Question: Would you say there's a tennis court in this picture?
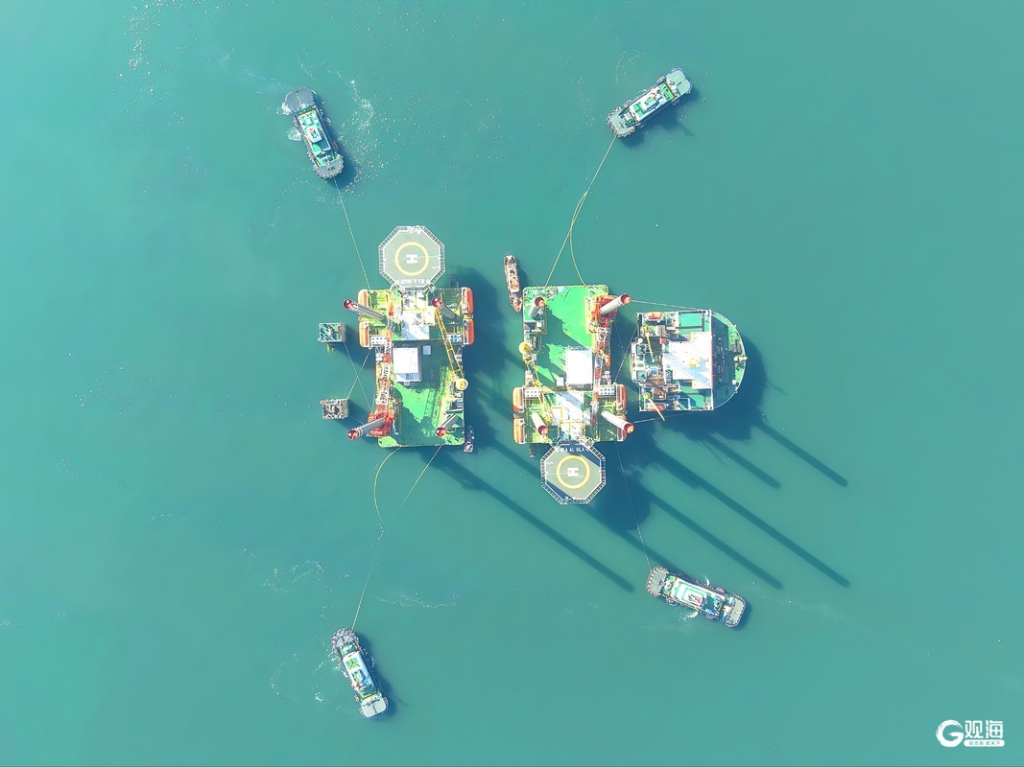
No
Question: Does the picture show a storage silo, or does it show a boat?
boat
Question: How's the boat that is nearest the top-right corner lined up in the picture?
diagonally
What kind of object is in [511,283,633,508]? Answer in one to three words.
vessel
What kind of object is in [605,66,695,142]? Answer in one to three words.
boat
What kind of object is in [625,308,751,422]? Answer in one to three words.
ship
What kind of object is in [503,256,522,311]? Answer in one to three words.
boat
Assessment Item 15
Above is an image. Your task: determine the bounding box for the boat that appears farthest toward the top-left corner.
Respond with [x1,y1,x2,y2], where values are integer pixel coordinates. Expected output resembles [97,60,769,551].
[290,89,347,182]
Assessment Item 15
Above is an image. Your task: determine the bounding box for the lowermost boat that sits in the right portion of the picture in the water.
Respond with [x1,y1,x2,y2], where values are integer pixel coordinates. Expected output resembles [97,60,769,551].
[645,564,746,623]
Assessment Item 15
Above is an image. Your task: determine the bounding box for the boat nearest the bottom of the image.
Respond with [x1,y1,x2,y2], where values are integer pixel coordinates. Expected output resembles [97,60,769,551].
[334,628,387,717]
